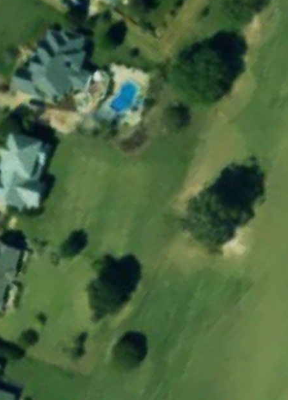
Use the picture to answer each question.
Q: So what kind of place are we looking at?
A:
golf course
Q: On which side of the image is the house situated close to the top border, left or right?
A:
left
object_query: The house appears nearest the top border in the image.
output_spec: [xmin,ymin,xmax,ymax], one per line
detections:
[7,17,95,105]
